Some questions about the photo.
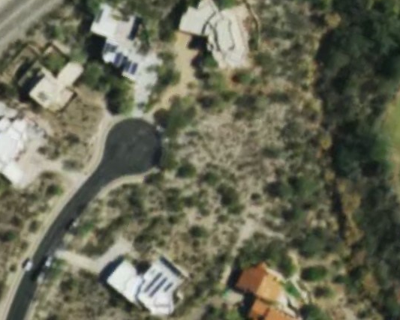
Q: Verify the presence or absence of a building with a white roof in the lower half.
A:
Yes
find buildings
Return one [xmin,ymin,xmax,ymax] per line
[179,0,249,70]
[90,4,145,81]
[29,62,83,113]
[108,258,183,318]
[0,117,30,188]
[237,264,300,320]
